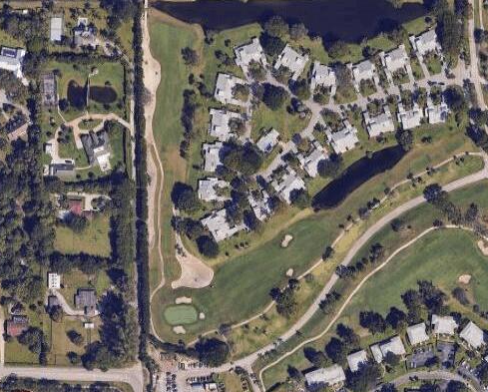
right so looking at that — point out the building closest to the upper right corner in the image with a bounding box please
[408,24,441,60]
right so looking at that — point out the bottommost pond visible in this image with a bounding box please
[312,145,407,209]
